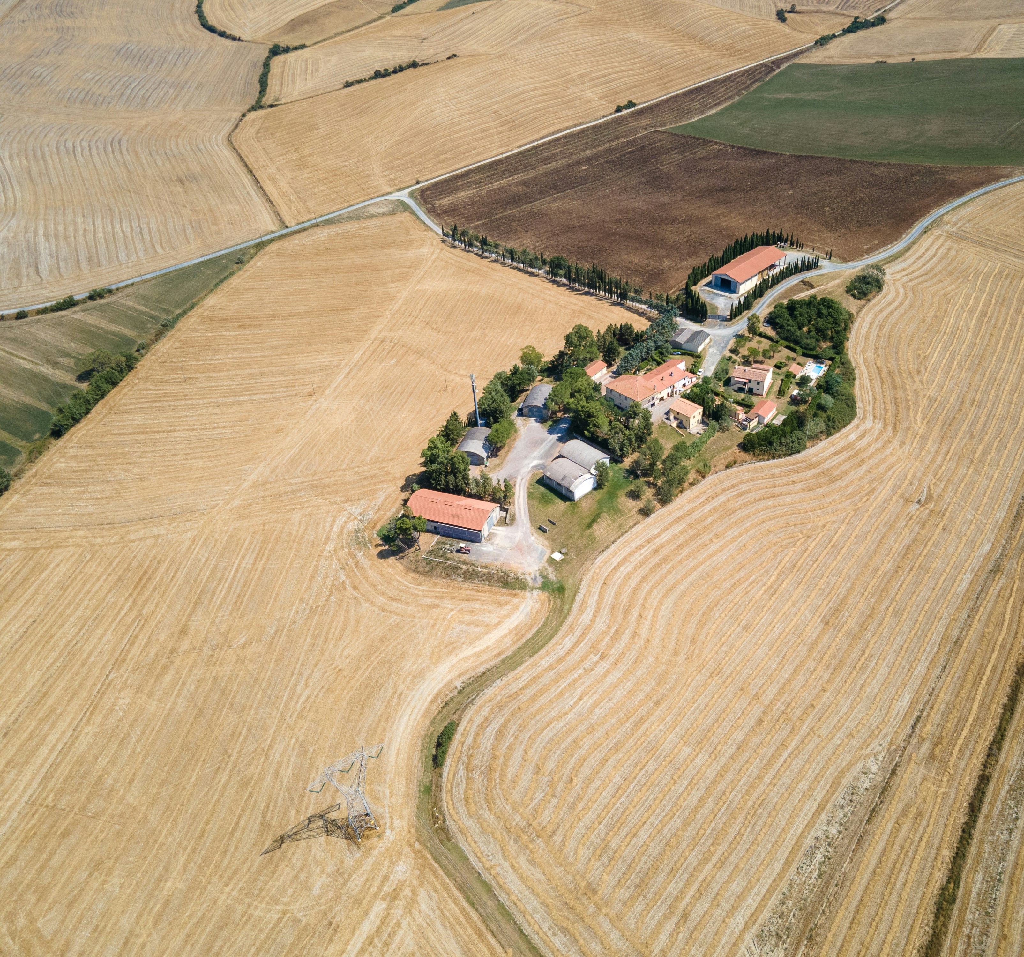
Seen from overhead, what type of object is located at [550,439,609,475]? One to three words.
shed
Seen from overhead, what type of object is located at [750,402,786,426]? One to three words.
house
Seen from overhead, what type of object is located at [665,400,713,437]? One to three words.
house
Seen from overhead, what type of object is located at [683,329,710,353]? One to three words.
shed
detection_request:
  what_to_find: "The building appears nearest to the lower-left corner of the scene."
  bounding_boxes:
[402,489,502,544]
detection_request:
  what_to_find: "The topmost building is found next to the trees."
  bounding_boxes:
[711,251,799,297]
